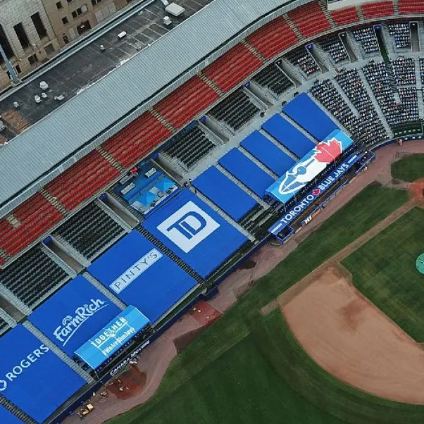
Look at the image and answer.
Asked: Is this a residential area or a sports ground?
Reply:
sports ground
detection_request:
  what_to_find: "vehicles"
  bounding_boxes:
[76,399,96,416]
